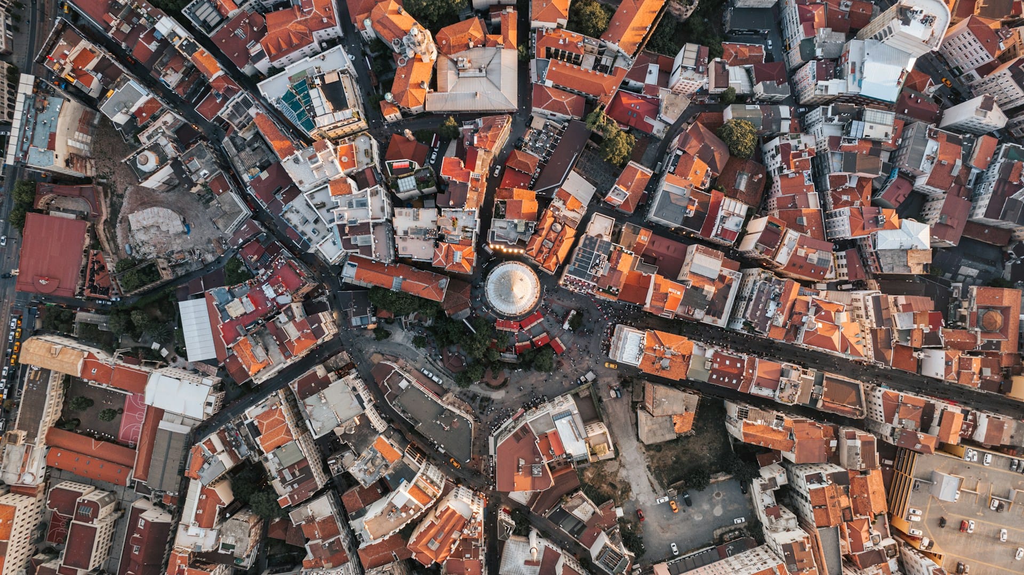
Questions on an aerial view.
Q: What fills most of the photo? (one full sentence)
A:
What you mostly see from above here is buildings.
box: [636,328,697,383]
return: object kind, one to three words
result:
house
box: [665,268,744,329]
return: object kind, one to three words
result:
building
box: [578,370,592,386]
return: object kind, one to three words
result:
vehicle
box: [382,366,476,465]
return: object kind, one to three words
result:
building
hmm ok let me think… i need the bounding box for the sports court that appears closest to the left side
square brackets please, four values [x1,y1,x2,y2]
[48,513,69,546]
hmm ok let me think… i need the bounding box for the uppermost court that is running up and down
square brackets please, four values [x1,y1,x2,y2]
[120,394,144,440]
